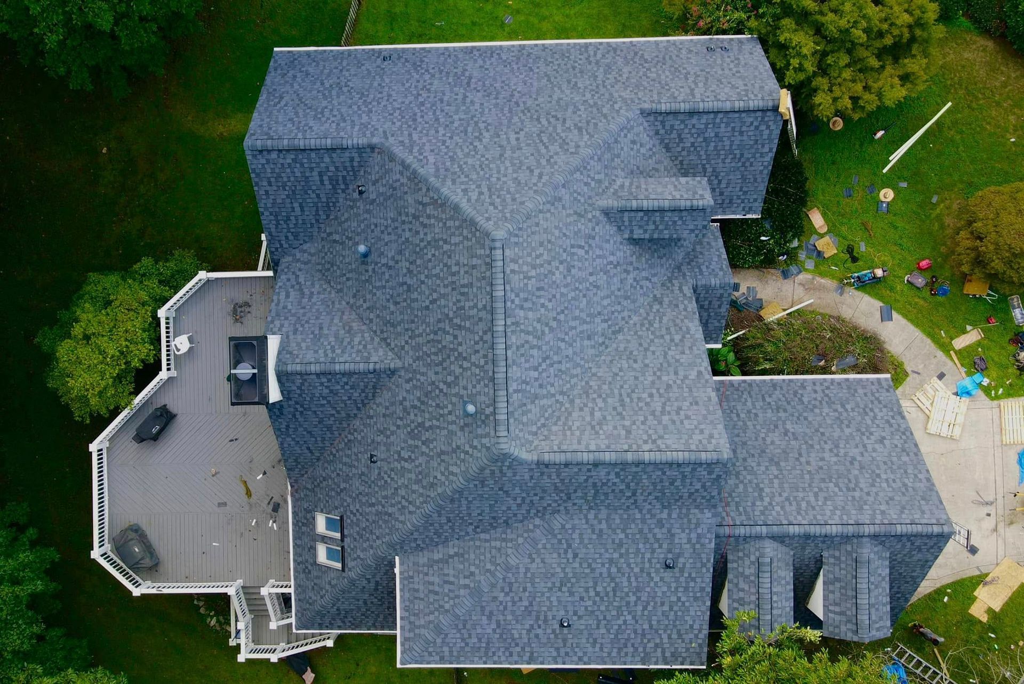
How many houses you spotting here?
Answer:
1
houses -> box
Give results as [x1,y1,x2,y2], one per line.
[229,33,954,670]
